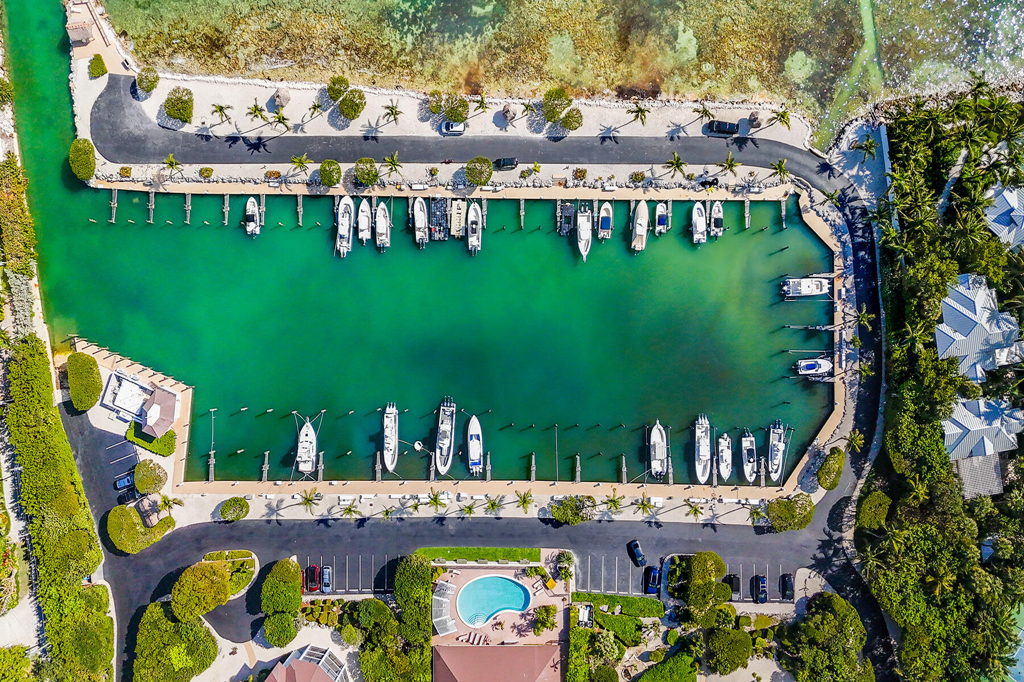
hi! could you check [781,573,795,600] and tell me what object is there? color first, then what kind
black car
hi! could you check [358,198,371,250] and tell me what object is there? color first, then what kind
white boat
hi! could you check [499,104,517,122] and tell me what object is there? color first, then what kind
gray umbrella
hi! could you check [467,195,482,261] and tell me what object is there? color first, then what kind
white boat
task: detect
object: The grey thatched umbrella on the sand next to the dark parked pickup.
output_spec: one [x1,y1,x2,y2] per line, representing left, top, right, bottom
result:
[745,111,763,129]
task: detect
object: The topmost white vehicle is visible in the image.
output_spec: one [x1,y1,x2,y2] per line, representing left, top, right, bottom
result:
[441,123,466,135]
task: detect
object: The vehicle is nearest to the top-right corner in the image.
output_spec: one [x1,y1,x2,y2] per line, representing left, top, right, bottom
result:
[707,120,738,134]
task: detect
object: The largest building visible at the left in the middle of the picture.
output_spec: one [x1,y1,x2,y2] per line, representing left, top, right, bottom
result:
[99,371,189,438]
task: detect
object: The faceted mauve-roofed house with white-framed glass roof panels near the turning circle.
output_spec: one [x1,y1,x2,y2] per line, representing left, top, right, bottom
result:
[267,640,350,682]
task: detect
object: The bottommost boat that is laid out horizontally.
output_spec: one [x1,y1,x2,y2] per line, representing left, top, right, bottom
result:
[788,359,834,374]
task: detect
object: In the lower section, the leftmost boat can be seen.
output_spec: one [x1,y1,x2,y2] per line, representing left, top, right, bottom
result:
[296,415,316,472]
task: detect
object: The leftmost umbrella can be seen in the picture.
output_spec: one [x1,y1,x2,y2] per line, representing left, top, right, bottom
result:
[273,89,293,108]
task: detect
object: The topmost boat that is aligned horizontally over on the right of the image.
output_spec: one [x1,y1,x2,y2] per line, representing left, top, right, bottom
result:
[775,278,831,296]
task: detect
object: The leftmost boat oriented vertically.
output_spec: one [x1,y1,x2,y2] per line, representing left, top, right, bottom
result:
[243,196,259,245]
